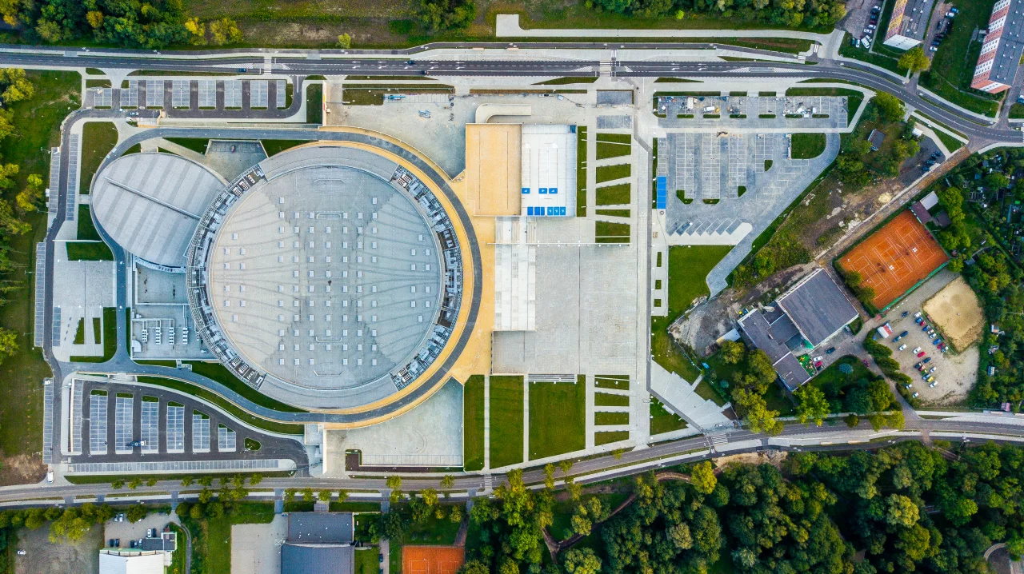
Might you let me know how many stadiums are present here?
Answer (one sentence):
I count just 1 stadium.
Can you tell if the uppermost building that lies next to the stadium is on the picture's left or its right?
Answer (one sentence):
The uppermost building that lies next to the stadium appears in the left half of the scene.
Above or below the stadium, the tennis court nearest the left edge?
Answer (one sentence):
It's below the stadium that the tennis court nearest the left edge shows up.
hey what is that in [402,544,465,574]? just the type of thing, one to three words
tennis court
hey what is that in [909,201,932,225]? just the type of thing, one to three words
building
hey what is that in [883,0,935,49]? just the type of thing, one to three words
building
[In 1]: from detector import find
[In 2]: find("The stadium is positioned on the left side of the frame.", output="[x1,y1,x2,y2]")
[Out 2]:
[187,147,464,409]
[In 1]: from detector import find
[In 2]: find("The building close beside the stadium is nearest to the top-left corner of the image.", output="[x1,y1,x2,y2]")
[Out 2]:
[92,151,226,276]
